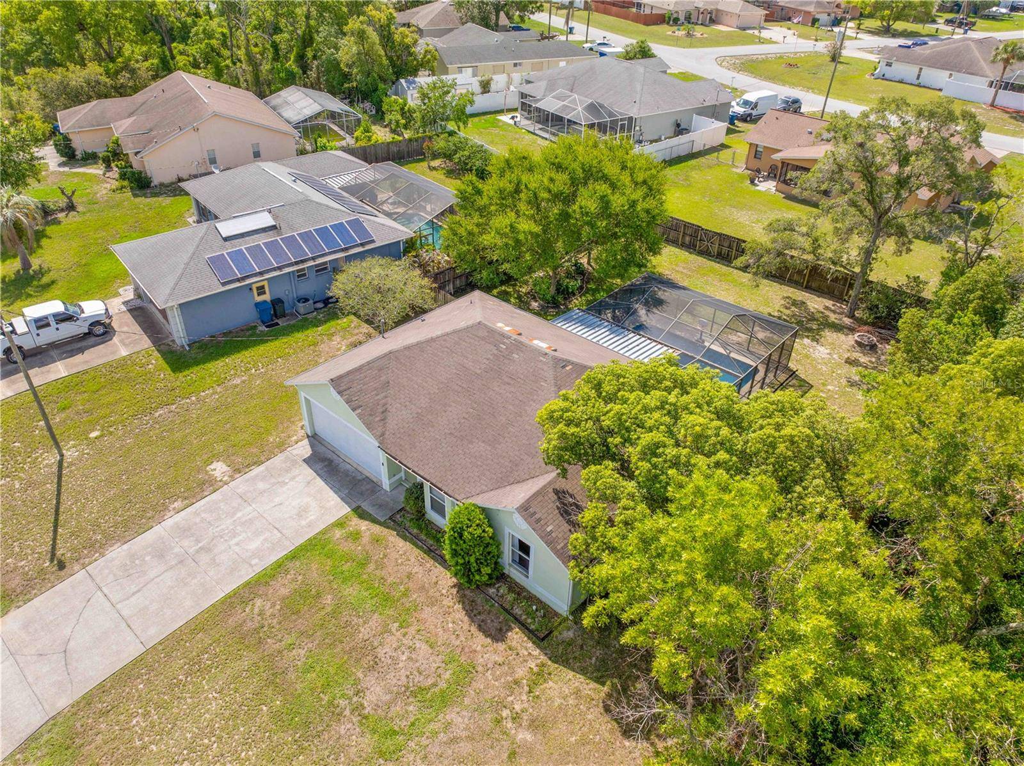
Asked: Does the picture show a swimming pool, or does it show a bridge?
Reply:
swimming pool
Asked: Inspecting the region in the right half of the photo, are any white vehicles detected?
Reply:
Yes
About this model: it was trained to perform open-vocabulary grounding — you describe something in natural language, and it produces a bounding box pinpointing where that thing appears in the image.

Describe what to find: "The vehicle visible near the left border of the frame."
[0,297,119,364]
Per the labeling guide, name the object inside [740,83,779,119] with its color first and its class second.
white van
